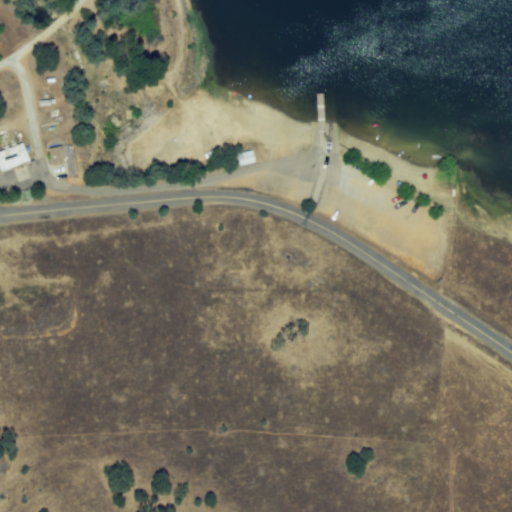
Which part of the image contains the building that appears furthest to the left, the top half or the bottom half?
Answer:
top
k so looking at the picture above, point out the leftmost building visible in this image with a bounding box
[0,143,31,173]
